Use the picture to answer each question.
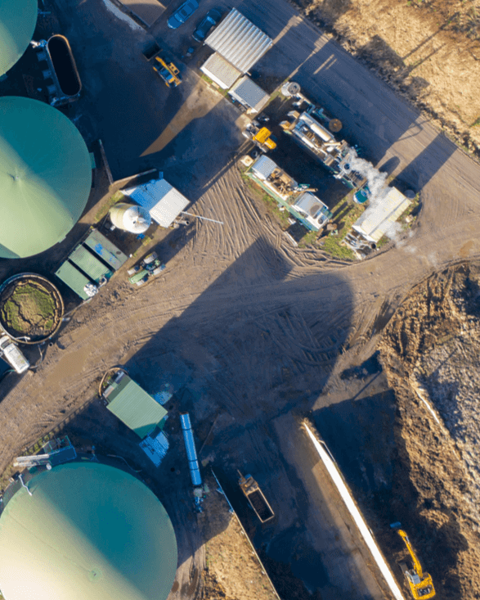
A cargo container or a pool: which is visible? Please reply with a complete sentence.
The image shows a cargo container.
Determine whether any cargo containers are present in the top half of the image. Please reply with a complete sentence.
Yes, a cargo container is visible in the top half of the image.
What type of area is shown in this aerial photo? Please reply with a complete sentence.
This image shows an industrial area.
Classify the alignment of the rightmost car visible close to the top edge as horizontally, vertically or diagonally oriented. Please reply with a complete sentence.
In this picture, the rightmost car visible close to the top edge is oriented diagonally.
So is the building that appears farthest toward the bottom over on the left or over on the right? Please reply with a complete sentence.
The building that appears farthest toward the bottom is on the left side of the image.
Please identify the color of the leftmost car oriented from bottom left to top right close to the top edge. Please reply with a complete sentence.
In this view, the leftmost car oriented from bottom left to top right close to the top edge is blue.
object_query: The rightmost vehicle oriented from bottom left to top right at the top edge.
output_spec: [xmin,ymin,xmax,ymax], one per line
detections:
[191,8,221,41]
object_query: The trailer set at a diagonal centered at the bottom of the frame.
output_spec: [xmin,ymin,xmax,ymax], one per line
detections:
[242,474,279,527]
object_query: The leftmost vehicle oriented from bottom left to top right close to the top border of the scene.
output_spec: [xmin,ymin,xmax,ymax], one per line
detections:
[167,0,198,29]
